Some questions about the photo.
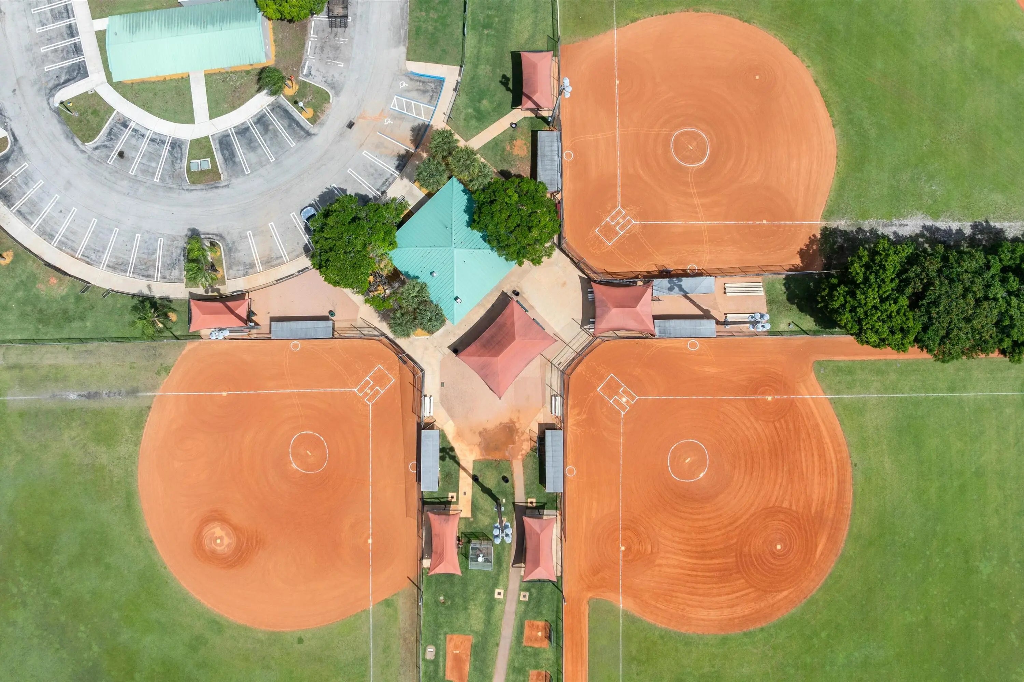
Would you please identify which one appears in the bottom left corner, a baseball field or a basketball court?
baseball field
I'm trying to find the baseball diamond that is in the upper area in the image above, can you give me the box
[560,0,1024,281]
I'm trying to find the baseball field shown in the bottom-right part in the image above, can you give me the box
[563,335,1024,682]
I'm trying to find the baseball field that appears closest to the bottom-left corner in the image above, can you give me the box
[0,337,423,682]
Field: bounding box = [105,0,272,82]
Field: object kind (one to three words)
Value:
building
